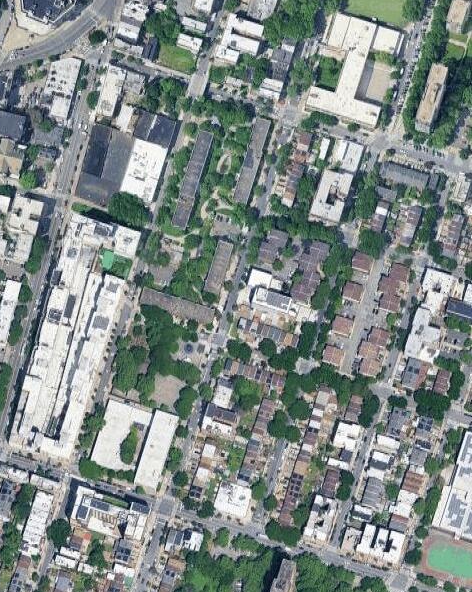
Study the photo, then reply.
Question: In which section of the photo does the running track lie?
bottom right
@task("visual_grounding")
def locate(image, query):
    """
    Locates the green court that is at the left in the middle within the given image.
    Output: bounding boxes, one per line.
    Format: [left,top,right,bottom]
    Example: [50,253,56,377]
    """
[102,250,133,277]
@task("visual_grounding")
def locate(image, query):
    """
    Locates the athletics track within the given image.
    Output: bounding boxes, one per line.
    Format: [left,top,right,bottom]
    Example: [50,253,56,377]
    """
[418,529,472,589]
